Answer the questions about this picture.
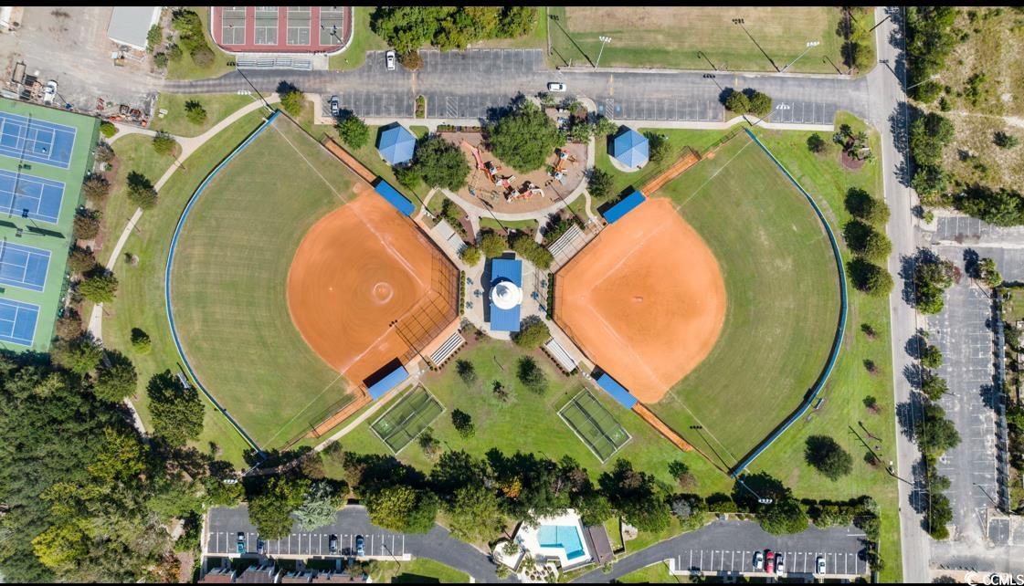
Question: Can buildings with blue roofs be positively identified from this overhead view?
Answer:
Yes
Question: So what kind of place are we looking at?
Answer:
sports ground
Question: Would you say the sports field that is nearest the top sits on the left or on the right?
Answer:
right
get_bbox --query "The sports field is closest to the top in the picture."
[550,0,848,74]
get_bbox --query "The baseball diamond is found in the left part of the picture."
[167,111,458,456]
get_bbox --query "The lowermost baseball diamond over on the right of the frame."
[555,129,844,476]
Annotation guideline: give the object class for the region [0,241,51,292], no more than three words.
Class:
tennis court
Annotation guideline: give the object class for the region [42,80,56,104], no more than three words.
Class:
vehicle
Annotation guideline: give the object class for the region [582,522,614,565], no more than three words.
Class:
building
